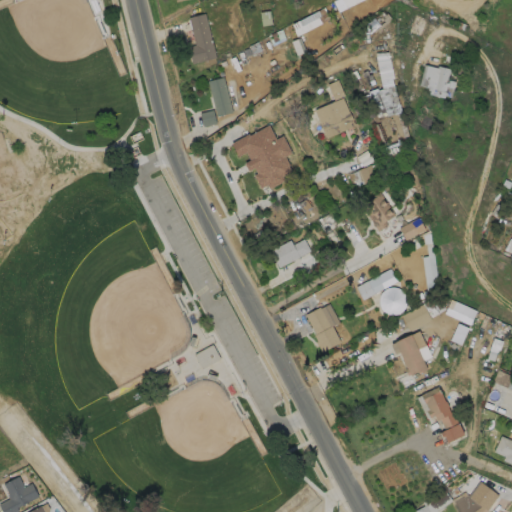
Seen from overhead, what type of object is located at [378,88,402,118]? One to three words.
shed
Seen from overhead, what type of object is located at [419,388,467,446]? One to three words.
house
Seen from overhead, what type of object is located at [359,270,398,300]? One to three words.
barn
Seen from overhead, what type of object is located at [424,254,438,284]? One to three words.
building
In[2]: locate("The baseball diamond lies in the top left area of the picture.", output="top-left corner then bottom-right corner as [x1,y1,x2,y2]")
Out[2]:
[0,0,129,124]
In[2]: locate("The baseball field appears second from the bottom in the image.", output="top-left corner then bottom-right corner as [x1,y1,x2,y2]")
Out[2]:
[56,221,193,410]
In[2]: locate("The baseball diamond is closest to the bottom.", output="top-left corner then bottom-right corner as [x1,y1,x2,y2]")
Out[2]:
[94,379,281,512]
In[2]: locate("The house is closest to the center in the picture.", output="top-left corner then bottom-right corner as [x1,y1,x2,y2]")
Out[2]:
[276,240,312,267]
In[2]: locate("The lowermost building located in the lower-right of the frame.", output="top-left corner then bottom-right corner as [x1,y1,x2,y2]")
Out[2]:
[454,482,500,512]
